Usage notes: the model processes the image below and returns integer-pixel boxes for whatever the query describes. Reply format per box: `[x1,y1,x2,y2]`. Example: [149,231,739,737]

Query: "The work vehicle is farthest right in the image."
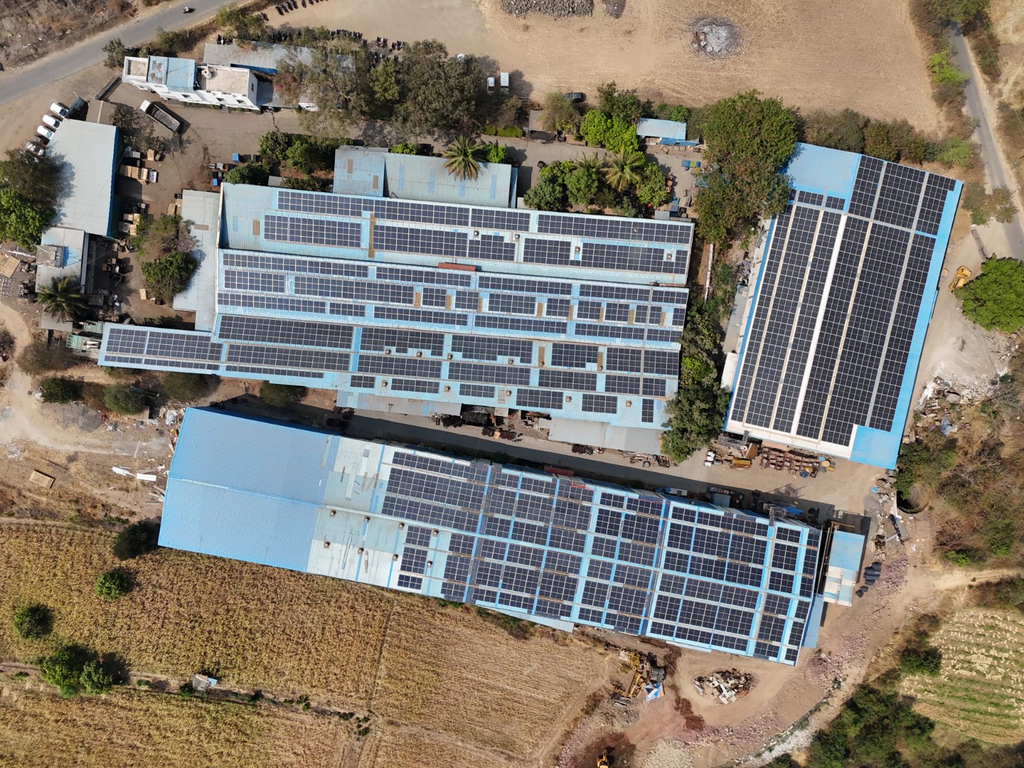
[945,260,973,295]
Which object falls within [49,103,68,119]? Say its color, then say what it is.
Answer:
white car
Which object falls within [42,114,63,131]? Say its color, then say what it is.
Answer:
white car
